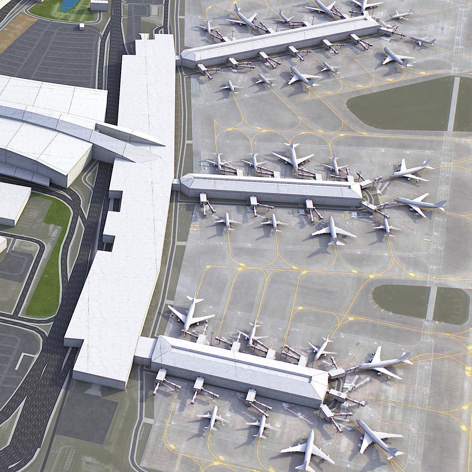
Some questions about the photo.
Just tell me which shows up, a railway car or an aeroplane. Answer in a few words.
aeroplane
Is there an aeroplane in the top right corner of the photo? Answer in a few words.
Yes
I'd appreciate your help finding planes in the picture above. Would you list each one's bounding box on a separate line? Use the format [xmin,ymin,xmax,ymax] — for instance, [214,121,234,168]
[411,37,436,46]
[222,81,244,93]
[215,213,241,230]
[245,415,277,438]
[168,296,215,331]
[226,5,256,29]
[353,0,384,10]
[281,430,335,470]
[239,320,269,346]
[257,74,279,86]
[322,154,348,174]
[394,194,444,217]
[196,407,228,429]
[241,151,267,170]
[384,49,417,67]
[312,217,356,244]
[273,144,314,173]
[206,153,232,170]
[304,0,335,17]
[390,160,431,182]
[310,335,339,358]
[324,63,341,74]
[357,419,404,457]
[197,21,219,34]
[261,215,289,231]
[392,9,414,20]
[375,219,401,235]
[289,67,322,87]
[357,348,412,379]
[274,12,292,26]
